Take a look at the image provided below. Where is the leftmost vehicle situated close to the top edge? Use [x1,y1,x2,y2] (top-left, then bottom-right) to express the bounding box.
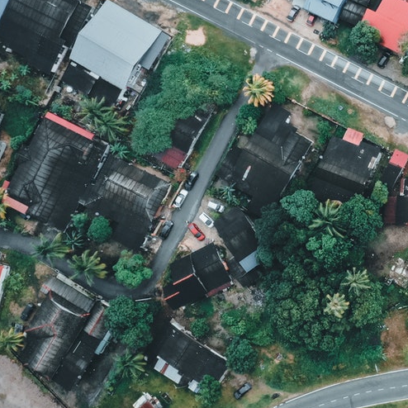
[285,6,301,25]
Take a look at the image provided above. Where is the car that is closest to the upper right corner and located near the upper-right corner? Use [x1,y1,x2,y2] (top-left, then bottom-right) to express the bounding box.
[378,51,391,69]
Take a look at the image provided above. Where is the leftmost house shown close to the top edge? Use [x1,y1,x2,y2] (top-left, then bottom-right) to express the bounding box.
[0,0,96,74]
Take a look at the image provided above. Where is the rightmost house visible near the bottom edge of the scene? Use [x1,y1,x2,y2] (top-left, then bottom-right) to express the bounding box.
[152,322,231,394]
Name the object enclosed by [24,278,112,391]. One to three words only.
house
